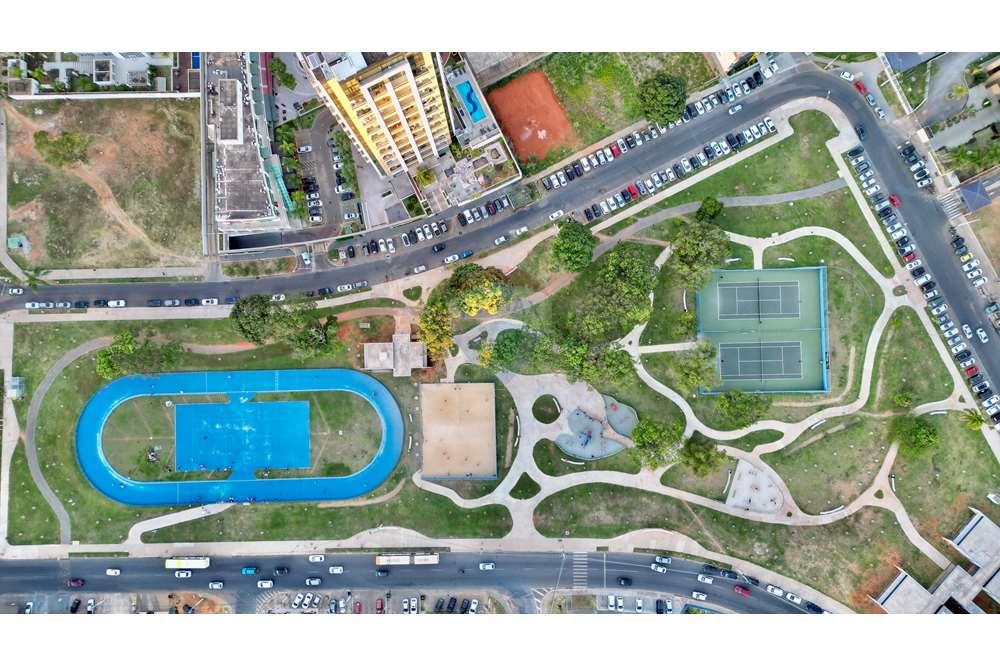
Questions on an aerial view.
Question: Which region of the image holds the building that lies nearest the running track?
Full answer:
Look in the center portion of the view to spot the building that lies nearest the running track.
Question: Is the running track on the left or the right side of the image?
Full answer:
The running track appears in the left half of the scene.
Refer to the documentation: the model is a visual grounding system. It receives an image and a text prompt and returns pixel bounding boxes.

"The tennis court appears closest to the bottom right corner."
[720,339,803,383]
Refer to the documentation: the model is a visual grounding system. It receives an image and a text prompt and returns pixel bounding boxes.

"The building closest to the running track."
[361,334,427,377]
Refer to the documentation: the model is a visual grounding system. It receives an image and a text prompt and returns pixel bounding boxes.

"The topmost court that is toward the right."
[718,277,800,323]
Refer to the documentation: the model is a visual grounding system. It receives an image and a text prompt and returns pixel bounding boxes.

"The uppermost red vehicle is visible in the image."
[853,80,867,96]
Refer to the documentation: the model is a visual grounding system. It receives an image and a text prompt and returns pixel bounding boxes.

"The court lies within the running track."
[175,391,311,481]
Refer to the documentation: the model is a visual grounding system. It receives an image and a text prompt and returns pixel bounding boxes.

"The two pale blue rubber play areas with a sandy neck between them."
[553,394,640,461]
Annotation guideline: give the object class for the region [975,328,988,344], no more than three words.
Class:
vehicle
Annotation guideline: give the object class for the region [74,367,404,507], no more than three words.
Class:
running track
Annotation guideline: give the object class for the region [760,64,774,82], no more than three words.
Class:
vehicle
